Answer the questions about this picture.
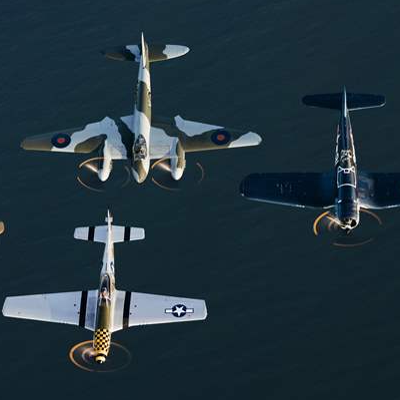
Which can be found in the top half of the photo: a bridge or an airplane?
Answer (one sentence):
What appears in the top half of the photo is an airplane.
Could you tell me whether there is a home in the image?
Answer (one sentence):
No, there is no home in the image.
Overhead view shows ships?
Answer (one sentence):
No, no ship is visible in the view.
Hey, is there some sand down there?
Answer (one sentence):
No, there's no sand in this view.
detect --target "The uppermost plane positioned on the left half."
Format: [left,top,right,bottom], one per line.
[20,30,261,193]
